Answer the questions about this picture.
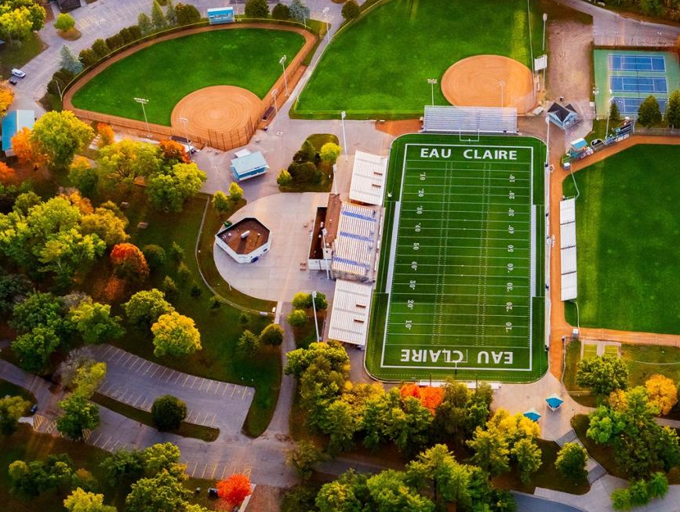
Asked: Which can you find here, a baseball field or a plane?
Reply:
baseball field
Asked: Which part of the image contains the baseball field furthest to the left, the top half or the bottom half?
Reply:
top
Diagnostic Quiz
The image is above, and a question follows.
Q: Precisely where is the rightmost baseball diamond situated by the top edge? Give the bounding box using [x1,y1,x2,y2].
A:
[287,0,546,120]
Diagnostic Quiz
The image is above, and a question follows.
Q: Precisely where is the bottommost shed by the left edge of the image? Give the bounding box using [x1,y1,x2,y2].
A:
[1,109,33,159]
